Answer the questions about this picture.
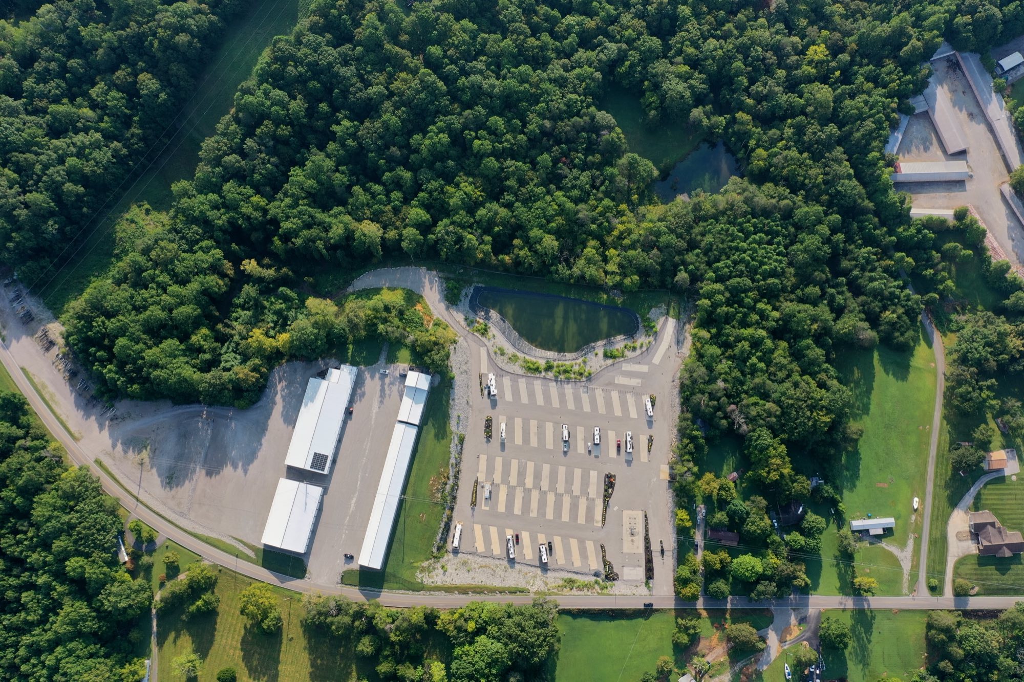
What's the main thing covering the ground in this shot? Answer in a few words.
trees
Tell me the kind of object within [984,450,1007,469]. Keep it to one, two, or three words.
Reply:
building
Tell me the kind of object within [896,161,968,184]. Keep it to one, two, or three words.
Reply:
barn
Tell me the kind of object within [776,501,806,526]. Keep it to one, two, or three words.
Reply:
house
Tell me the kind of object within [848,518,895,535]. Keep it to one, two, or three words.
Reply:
house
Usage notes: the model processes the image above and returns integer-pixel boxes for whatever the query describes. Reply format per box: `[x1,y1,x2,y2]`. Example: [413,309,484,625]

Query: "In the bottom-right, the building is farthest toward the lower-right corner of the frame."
[967,512,1024,557]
